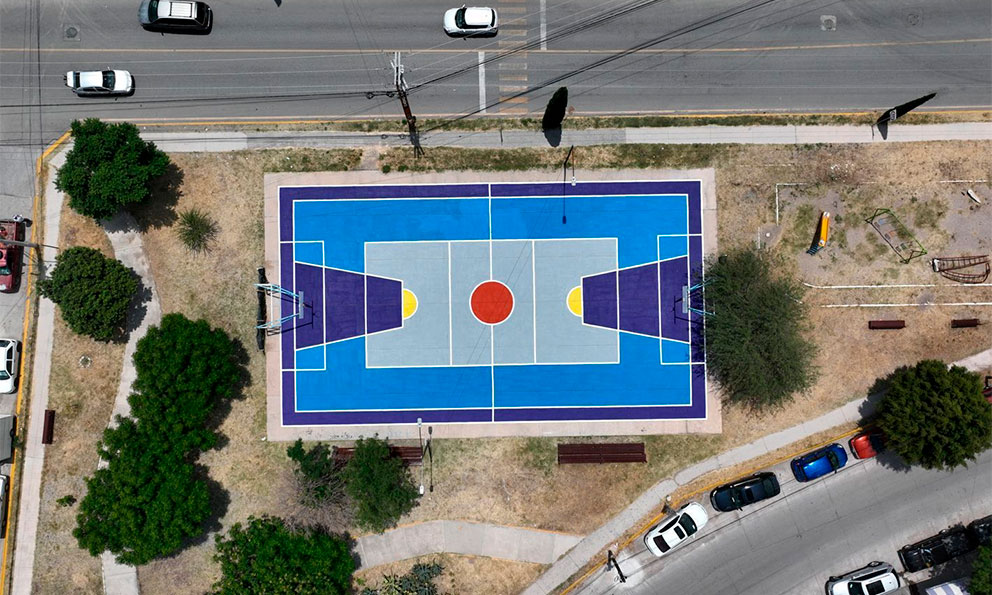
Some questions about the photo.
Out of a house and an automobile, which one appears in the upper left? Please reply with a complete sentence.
The feature located in the upper left is an automobile.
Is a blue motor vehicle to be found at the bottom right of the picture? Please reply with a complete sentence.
Yes, I can see a blue motor vehicle at the bottom right of the picture.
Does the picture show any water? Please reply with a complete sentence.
No, water can't be seen anywhere here.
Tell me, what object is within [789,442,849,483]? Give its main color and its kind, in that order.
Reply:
blue car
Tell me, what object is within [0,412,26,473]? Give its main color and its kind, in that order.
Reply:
gray trailer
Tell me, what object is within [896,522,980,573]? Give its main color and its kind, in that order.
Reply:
black truck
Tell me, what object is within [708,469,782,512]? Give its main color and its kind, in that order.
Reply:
black car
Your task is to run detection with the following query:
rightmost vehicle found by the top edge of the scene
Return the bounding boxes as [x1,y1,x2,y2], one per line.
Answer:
[444,4,499,39]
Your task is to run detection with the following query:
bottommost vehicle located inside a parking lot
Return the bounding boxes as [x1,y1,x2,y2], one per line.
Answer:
[823,558,898,595]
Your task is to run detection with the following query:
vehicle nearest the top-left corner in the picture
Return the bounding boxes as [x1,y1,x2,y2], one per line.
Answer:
[63,68,136,100]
